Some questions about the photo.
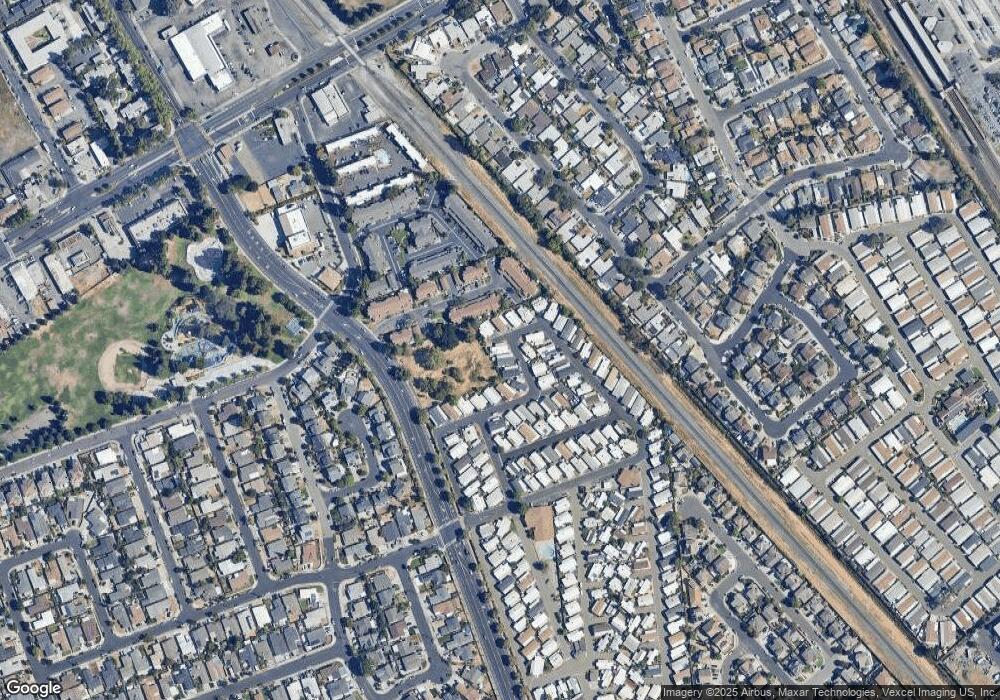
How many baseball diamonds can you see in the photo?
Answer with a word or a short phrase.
one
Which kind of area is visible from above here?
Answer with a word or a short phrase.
residential area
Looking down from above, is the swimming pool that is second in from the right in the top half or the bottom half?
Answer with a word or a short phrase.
bottom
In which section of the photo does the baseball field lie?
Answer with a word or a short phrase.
left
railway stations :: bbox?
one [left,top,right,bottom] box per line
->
[882,0,963,95]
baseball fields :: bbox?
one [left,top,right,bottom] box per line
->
[98,339,149,392]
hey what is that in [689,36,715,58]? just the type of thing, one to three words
house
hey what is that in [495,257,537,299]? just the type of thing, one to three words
building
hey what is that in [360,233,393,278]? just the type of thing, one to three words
building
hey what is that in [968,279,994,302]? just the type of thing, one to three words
house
